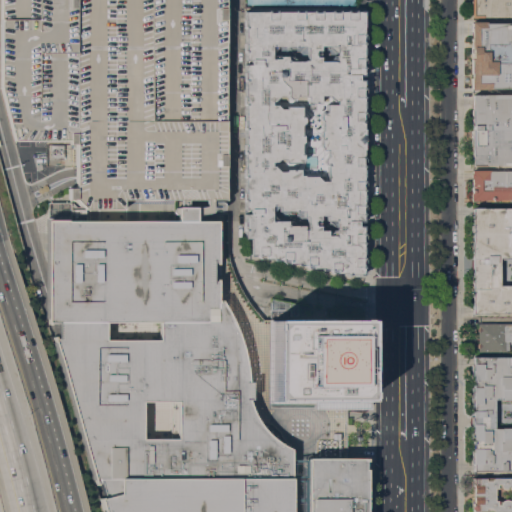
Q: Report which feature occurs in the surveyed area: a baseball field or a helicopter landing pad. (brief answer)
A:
helicopter landing pad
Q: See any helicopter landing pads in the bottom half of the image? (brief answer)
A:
Yes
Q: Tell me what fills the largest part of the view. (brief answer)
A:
buildings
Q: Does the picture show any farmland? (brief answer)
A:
No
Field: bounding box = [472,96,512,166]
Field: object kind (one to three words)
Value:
building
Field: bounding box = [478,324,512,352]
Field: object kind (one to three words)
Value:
building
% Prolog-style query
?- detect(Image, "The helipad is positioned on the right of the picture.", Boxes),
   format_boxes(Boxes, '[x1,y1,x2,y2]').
[323,336,374,388]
